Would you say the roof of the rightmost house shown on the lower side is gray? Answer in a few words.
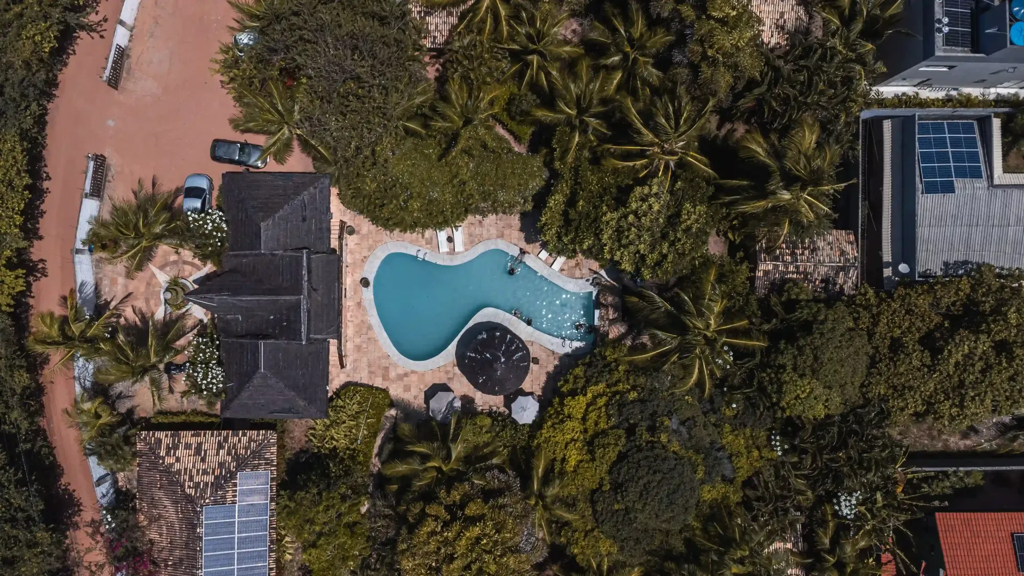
No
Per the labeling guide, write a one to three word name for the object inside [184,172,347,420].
house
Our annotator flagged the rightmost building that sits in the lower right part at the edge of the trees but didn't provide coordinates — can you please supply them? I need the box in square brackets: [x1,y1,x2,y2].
[918,507,1024,576]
